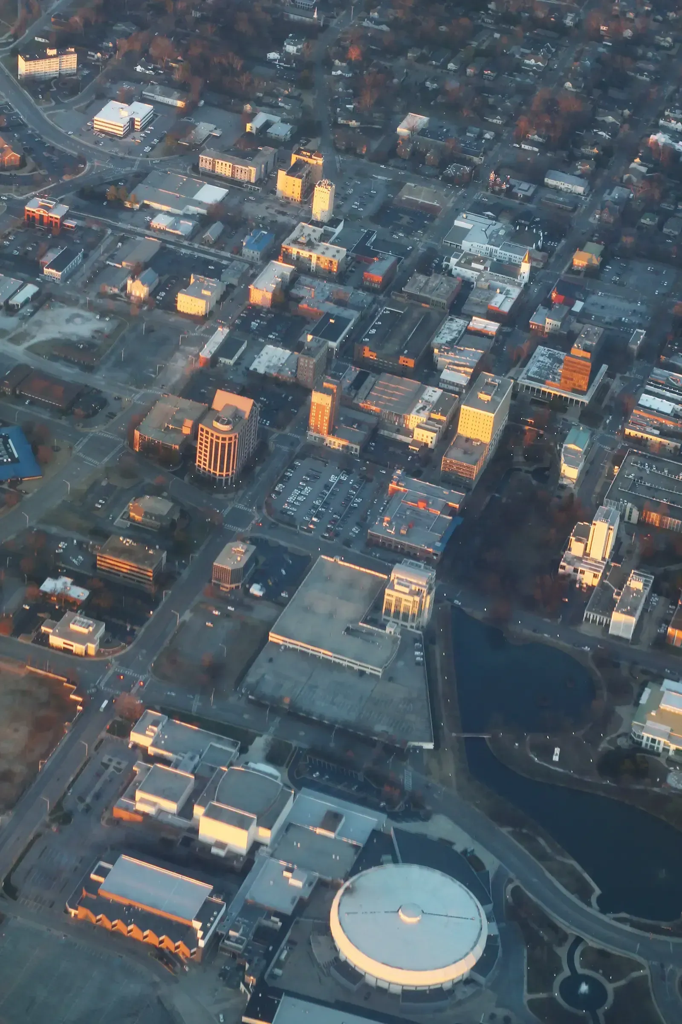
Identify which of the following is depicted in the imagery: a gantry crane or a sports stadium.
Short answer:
sports stadium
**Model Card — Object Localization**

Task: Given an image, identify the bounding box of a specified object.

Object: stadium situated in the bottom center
[315,833,501,1008]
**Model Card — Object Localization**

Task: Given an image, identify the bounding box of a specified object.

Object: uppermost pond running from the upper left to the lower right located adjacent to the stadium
[453,618,682,922]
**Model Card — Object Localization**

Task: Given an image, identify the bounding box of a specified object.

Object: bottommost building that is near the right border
[630,679,682,760]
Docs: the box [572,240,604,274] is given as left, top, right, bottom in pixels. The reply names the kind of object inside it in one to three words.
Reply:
house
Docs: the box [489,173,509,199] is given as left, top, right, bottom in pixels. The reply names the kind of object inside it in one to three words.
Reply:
building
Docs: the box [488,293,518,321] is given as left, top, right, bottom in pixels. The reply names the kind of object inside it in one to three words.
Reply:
building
